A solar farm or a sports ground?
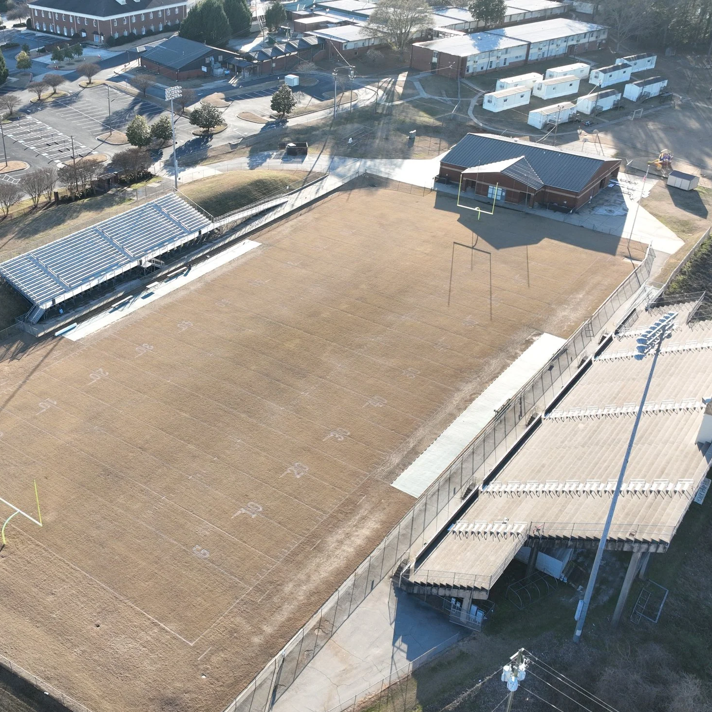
sports ground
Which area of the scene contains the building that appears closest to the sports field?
top right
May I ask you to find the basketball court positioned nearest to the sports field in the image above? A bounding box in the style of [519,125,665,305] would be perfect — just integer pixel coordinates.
[565,128,618,150]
